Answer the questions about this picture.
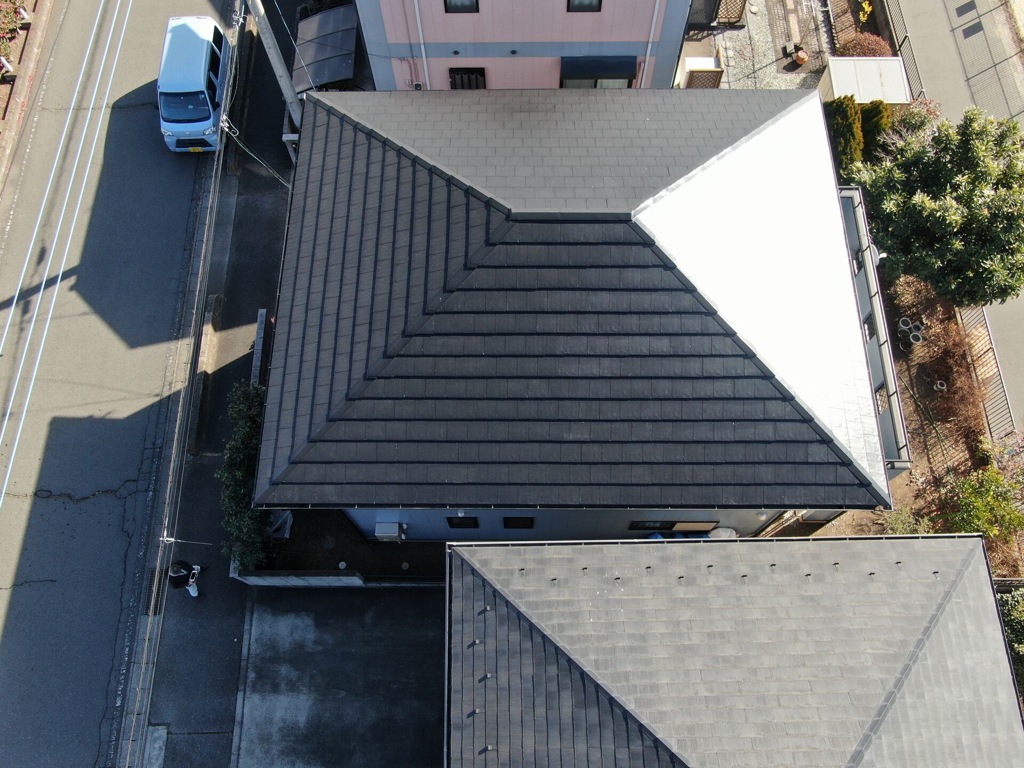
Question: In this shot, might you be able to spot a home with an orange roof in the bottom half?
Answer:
No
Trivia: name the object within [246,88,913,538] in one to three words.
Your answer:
house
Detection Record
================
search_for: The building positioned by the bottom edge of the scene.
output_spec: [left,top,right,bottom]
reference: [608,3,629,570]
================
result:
[440,531,1024,768]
